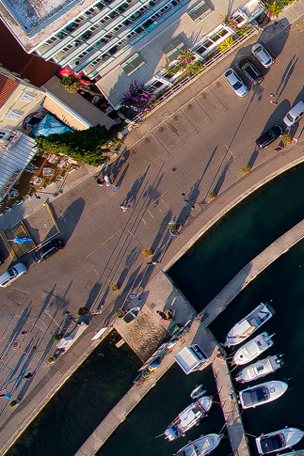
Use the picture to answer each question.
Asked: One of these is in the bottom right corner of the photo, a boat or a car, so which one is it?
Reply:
boat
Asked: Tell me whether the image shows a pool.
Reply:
No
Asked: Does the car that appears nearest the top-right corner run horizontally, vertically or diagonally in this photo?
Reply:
diagonally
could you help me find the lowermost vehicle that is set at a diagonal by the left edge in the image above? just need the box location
[0,260,33,289]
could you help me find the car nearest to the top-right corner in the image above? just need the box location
[249,40,277,72]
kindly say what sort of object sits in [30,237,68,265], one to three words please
car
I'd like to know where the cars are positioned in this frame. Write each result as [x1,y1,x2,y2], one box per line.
[281,100,304,130]
[255,124,288,150]
[0,260,33,289]
[239,56,266,89]
[223,68,250,99]
[30,237,68,265]
[249,40,277,72]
